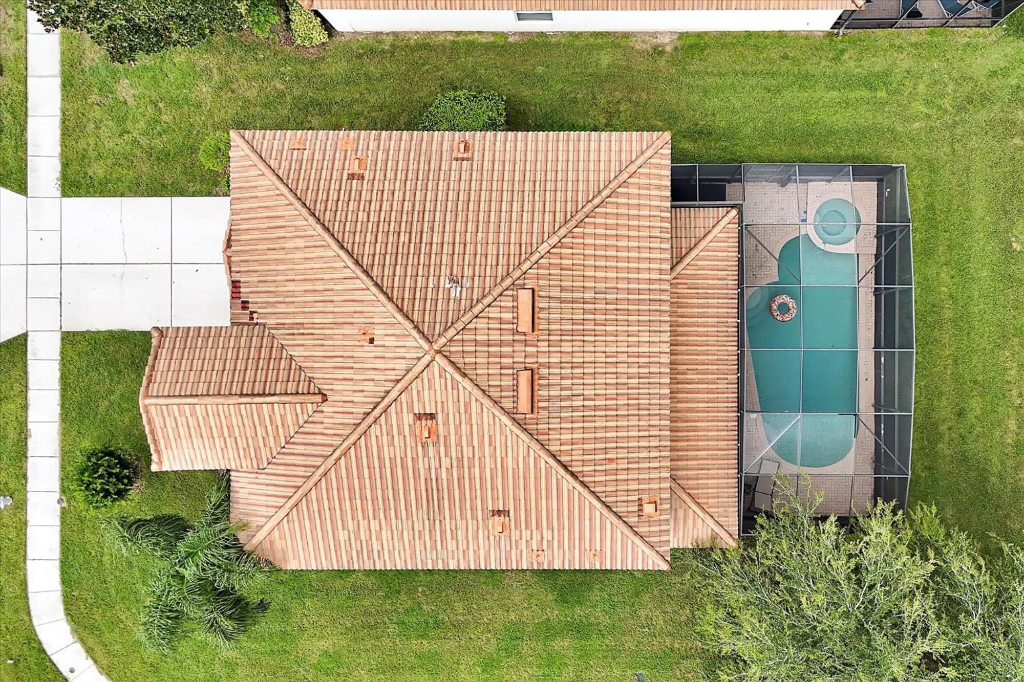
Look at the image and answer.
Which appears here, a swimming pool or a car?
swimming pool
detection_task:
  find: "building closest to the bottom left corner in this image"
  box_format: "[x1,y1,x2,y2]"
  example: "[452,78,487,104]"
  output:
[137,128,739,573]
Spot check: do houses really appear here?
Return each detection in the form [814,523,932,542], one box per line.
[137,128,739,573]
[292,0,871,38]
